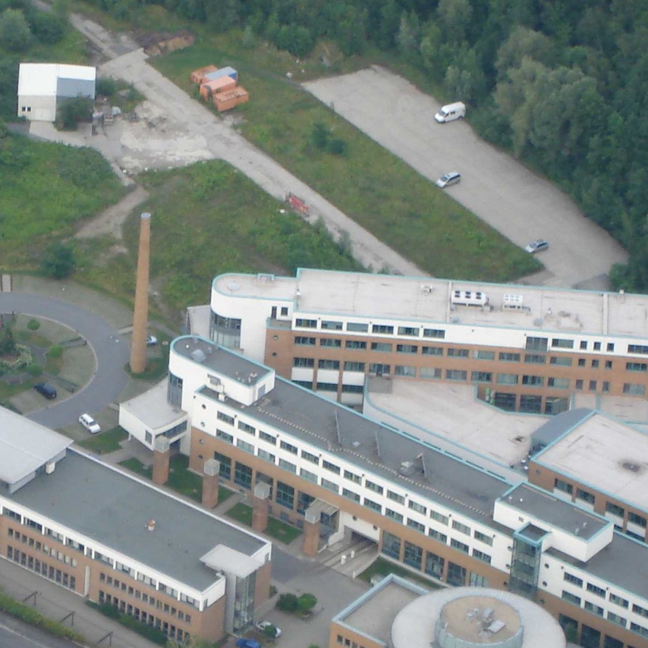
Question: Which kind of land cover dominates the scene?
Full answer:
The scene is dominated by buildings.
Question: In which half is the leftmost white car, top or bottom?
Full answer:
The bottom half of the photo is where the leftmost white car is.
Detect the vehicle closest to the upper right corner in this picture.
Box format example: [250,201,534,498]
[437,102,464,122]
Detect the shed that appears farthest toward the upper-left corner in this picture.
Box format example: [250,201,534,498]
[20,64,101,123]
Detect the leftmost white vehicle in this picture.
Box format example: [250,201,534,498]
[80,415,100,434]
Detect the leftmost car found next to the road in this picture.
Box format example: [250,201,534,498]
[34,385,58,400]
